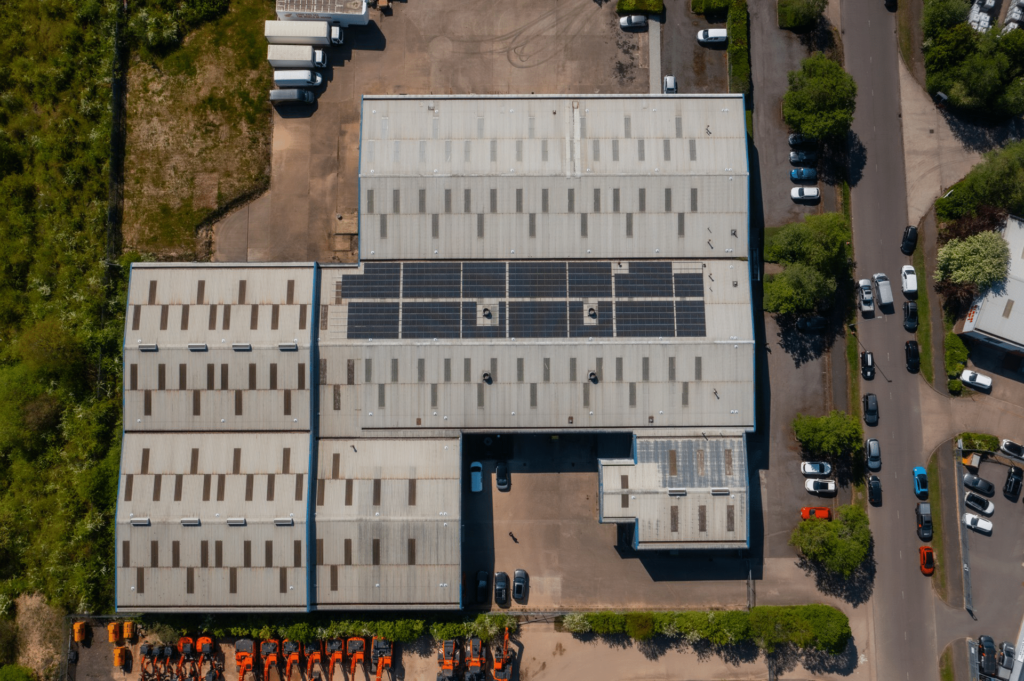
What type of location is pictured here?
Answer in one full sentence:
The area seen from above is an industrial area.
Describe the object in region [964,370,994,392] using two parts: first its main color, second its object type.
white car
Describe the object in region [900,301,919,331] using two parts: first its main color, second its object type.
black car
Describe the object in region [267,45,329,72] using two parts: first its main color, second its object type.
white truck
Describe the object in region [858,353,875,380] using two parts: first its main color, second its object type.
black car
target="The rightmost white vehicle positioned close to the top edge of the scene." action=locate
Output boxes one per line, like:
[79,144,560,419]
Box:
[697,27,729,44]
